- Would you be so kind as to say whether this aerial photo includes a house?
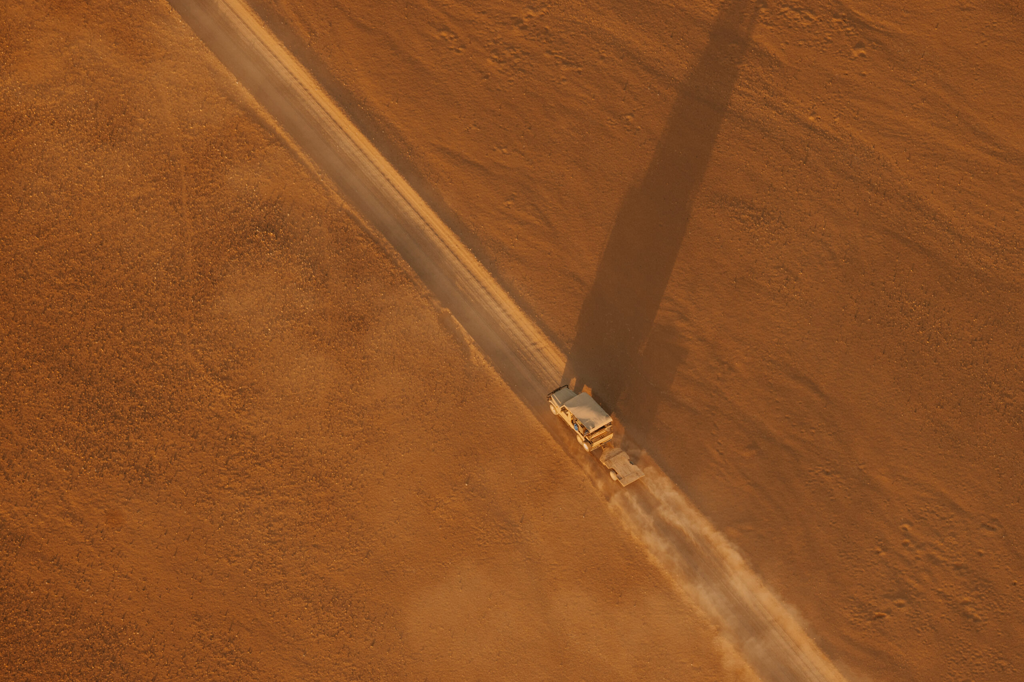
No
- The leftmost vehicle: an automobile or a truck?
truck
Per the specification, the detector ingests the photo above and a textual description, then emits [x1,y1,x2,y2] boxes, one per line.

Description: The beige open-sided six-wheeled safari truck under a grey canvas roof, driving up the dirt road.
[547,385,614,452]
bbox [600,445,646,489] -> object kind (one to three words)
trailer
